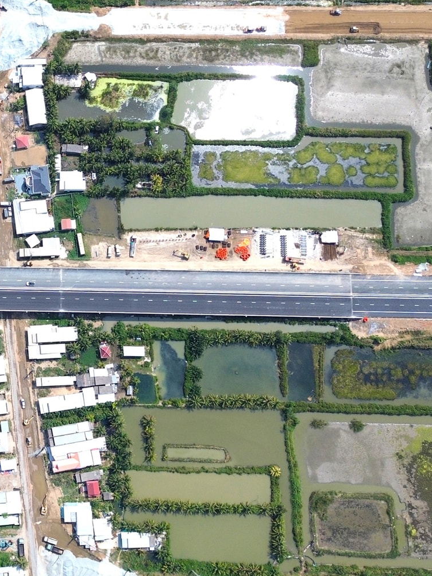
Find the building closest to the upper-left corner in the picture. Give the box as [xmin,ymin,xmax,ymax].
[9,58,46,90]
